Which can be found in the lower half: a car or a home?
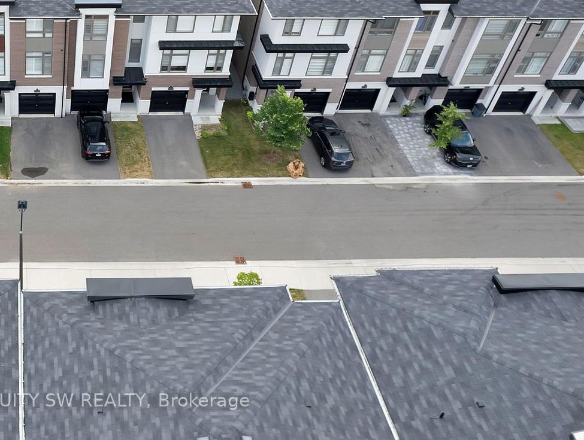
home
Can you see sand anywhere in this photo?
No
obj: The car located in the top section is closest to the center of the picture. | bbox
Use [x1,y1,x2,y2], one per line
[305,113,354,165]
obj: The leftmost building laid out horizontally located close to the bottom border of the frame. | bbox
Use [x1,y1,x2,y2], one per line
[19,276,395,440]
